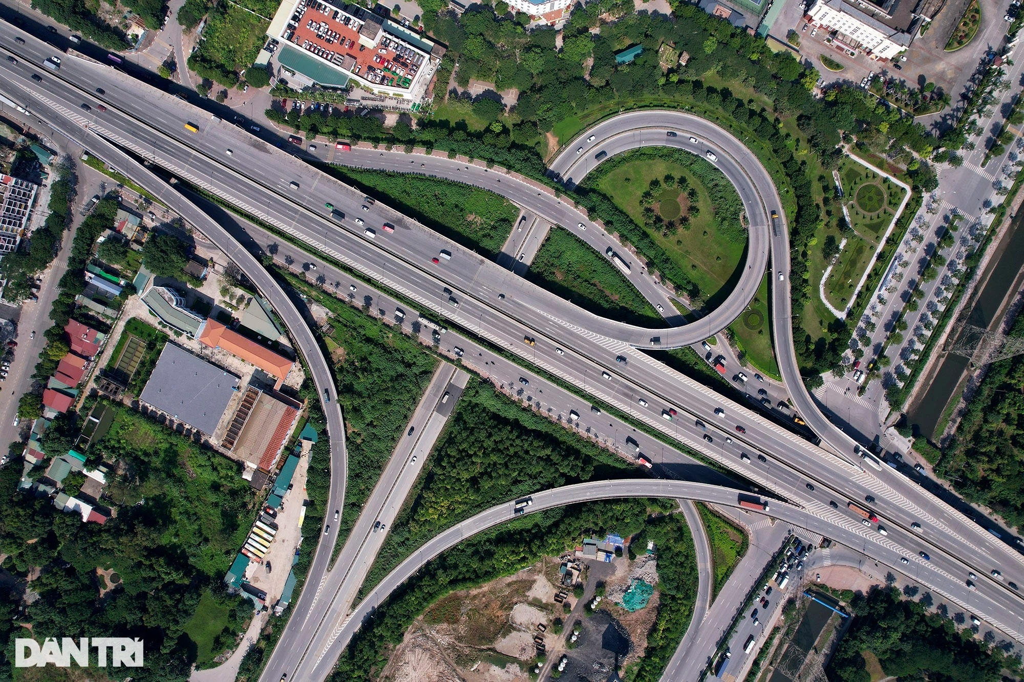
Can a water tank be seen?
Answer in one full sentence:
Yes, the photo shows a water tank.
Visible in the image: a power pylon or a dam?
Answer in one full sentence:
There is a power pylon in the scene.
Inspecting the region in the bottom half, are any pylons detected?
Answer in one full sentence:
Yes, a pylon can be seen in the bottom half.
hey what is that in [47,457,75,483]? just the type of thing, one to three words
house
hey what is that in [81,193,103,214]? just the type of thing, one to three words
truck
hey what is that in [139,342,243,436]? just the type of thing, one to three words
building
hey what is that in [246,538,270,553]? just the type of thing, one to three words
vehicle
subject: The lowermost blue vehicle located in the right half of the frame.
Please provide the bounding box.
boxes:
[715,652,731,678]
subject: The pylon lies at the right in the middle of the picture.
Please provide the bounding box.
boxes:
[942,320,1024,370]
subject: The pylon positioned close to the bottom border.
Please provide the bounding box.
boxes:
[772,638,828,682]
